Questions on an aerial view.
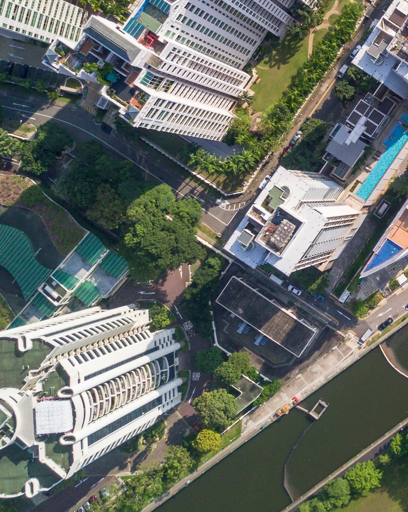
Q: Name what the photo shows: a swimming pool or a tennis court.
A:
swimming pool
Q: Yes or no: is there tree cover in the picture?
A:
Yes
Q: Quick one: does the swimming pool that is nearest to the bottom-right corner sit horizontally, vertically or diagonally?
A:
diagonally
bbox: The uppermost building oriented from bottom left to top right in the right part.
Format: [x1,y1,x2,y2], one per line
[327,94,400,180]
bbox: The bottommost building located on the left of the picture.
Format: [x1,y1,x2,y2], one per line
[0,304,185,498]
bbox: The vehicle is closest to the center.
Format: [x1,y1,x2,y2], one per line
[263,270,285,285]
